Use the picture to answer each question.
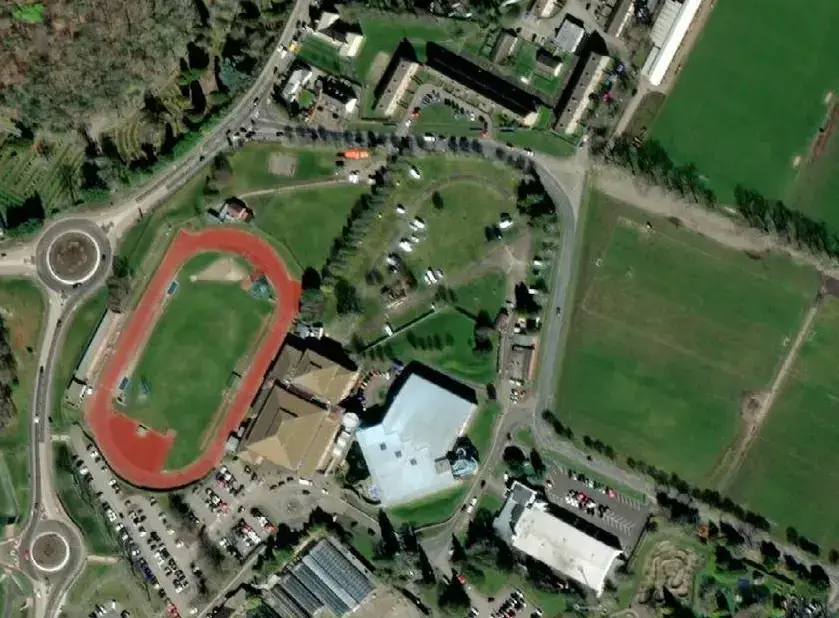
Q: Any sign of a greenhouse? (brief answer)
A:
Yes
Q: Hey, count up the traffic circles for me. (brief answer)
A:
2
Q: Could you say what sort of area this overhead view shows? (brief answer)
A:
sports ground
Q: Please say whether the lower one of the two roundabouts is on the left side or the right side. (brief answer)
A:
left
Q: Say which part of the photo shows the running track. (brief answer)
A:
left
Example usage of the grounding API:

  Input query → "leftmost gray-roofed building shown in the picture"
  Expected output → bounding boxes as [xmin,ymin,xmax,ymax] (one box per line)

[67,379,87,404]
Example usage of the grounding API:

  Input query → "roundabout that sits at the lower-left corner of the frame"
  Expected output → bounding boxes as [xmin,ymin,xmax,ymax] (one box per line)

[15,516,85,586]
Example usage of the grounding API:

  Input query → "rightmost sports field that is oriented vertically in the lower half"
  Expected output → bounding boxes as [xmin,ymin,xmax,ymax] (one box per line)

[738,299,839,552]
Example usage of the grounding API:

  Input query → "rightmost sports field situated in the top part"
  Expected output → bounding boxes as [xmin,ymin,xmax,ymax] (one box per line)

[792,120,839,252]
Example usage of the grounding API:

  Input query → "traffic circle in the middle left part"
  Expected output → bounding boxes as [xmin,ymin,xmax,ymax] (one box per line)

[33,216,114,297]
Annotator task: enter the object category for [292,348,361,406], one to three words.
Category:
building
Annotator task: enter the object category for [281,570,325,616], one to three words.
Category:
greenhouse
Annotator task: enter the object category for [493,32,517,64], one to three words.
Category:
house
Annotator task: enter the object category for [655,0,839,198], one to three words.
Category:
sports field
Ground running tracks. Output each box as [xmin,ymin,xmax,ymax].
[86,229,301,489]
